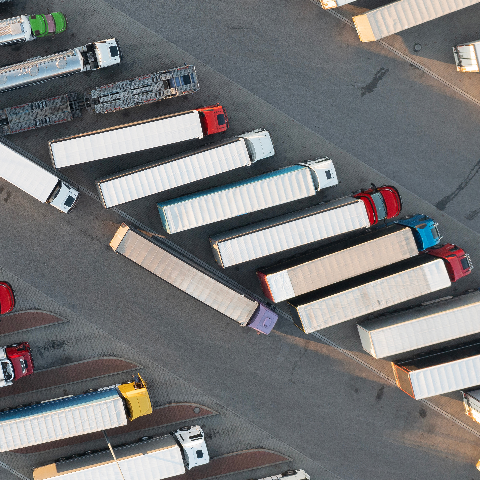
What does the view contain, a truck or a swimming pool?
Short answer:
truck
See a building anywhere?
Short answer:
No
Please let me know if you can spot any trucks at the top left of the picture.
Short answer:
Yes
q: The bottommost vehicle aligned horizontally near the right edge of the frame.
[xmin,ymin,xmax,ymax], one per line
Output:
[390,339,480,399]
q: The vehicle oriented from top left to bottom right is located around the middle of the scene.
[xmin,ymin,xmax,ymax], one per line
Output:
[110,222,279,339]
